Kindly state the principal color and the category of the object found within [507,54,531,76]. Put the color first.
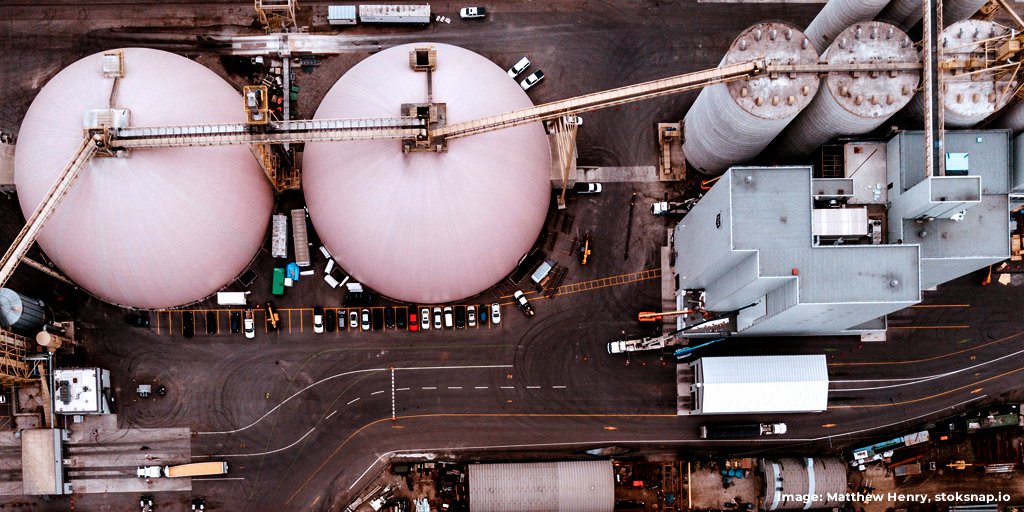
white vehicle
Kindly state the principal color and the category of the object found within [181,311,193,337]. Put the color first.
black vehicle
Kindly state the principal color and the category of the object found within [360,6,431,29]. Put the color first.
white trailer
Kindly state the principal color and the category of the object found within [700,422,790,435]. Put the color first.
black vehicle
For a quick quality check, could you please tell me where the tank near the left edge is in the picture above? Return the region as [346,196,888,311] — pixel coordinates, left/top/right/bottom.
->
[0,287,47,333]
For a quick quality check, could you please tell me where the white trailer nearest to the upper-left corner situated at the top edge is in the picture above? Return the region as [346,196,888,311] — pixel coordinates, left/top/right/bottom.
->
[328,6,357,30]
